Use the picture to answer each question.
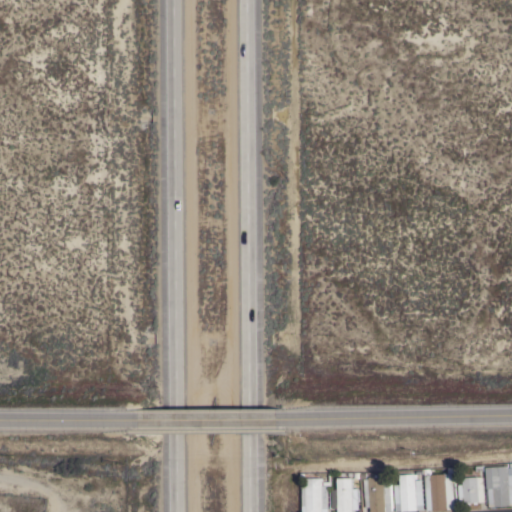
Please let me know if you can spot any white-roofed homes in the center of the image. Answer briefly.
No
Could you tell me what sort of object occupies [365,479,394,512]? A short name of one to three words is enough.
house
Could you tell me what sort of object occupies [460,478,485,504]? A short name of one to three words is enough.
house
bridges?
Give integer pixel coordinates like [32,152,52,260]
[128,408,287,434]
